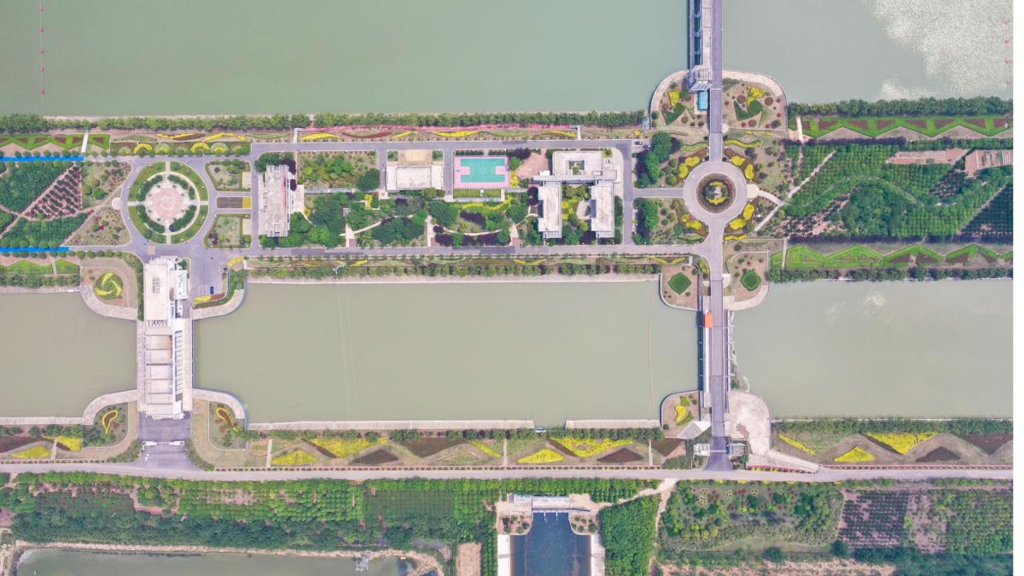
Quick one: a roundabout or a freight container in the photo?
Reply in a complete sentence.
I can see a roundabout in this picture.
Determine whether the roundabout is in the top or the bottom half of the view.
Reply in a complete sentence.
Seen from above, the roundabout lies in the top half of the view.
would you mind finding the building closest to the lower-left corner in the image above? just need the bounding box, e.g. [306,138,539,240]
[143,256,196,323]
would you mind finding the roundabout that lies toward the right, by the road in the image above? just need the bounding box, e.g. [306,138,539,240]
[684,160,749,225]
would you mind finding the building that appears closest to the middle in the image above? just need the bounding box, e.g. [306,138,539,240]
[538,181,562,239]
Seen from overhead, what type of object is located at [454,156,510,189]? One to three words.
basketball court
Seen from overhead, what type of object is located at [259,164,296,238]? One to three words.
building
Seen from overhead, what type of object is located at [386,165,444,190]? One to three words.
building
